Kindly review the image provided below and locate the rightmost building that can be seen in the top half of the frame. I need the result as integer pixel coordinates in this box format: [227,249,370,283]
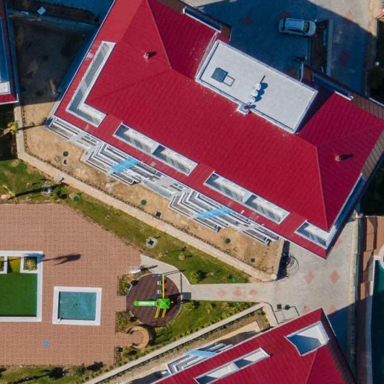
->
[42,0,384,261]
